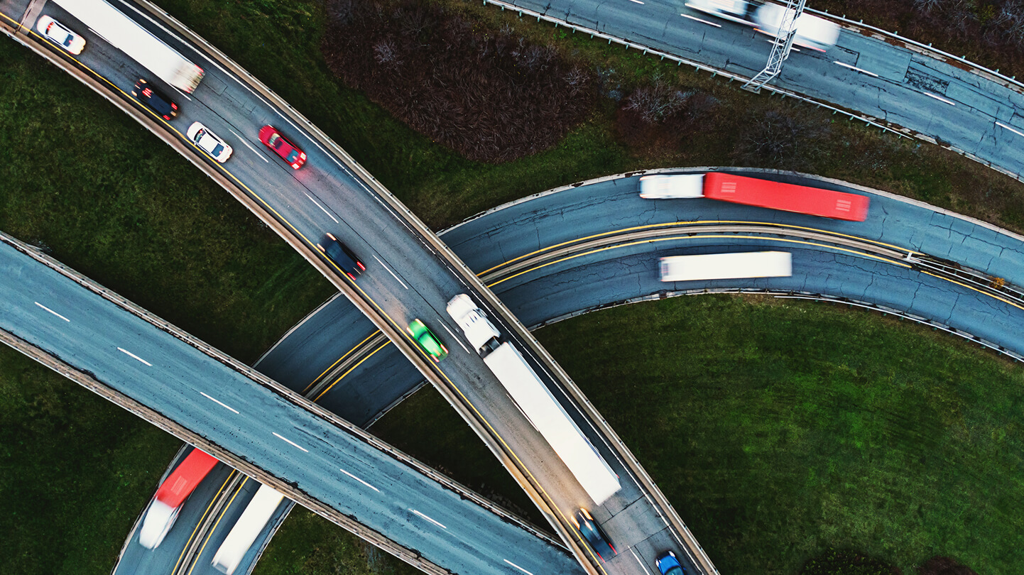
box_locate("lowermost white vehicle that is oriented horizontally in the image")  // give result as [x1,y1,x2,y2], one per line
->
[661,250,787,281]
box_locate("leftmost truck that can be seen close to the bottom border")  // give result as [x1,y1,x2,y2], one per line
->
[137,448,218,551]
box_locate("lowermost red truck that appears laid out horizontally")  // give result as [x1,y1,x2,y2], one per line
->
[640,170,866,225]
